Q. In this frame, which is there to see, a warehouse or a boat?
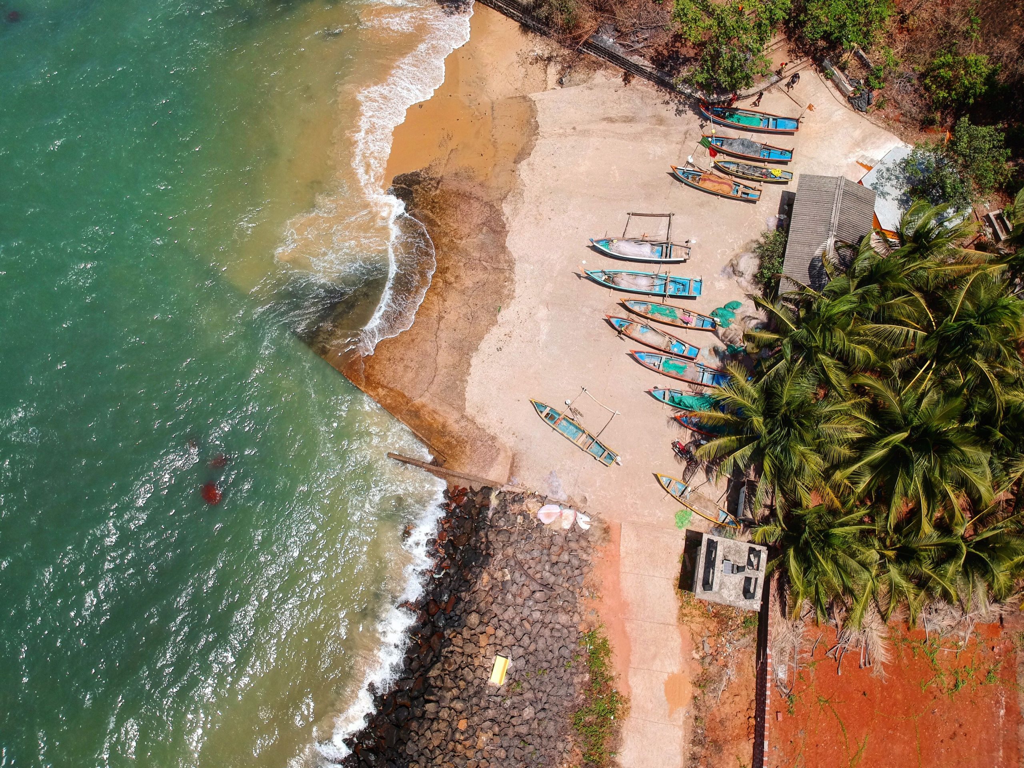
boat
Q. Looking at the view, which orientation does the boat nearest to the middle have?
diagonally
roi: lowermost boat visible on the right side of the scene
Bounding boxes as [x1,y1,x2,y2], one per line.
[657,462,742,529]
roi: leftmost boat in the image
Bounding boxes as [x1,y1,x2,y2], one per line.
[530,387,621,466]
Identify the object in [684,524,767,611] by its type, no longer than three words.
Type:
shed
